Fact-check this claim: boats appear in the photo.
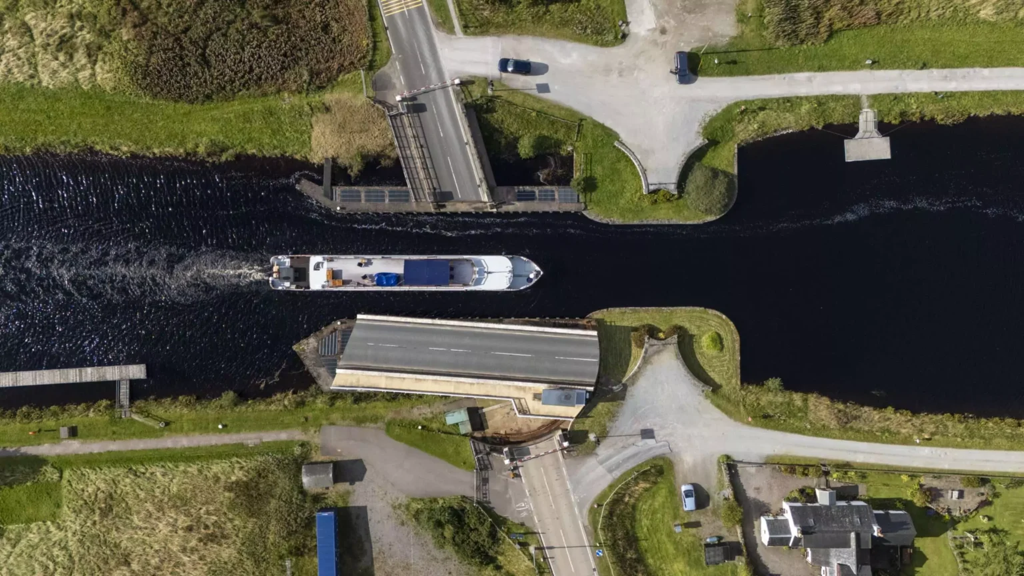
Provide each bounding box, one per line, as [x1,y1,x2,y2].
[269,252,543,292]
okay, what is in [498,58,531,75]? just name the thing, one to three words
car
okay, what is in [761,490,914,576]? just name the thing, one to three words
house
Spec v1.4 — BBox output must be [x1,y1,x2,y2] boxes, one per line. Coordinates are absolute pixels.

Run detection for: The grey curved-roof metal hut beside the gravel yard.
[303,458,337,490]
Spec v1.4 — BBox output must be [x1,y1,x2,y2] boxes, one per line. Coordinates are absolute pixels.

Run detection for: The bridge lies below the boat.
[331,314,600,421]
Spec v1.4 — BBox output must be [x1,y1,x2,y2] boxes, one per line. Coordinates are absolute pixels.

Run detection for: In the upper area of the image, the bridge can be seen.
[372,97,499,203]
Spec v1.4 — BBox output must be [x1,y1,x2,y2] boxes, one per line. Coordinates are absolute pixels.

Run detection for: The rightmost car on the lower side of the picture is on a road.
[681,483,696,512]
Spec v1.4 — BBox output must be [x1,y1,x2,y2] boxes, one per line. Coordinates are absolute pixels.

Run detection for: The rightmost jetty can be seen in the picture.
[824,108,912,162]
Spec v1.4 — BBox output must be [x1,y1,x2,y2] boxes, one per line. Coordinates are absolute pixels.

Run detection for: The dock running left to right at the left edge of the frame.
[0,364,147,417]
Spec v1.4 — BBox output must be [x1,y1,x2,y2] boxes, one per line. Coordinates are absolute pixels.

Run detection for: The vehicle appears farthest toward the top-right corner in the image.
[670,50,692,85]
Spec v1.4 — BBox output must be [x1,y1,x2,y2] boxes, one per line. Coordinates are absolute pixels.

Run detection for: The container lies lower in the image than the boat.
[317,505,343,576]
